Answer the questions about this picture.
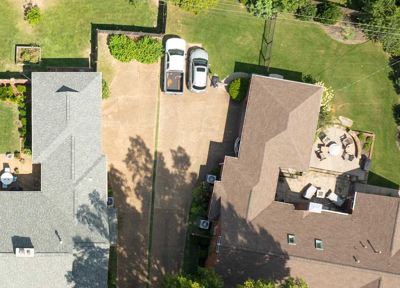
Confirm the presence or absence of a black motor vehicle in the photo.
No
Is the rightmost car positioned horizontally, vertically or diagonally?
vertically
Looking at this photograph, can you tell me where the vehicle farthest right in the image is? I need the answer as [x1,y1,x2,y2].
[187,47,210,94]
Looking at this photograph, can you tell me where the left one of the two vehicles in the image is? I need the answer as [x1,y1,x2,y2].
[163,38,188,99]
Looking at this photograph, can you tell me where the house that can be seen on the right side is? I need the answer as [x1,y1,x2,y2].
[205,74,400,288]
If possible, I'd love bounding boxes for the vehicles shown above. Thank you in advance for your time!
[187,47,210,94]
[163,38,188,99]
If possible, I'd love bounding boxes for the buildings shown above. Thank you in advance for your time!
[0,72,117,288]
[205,74,400,288]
